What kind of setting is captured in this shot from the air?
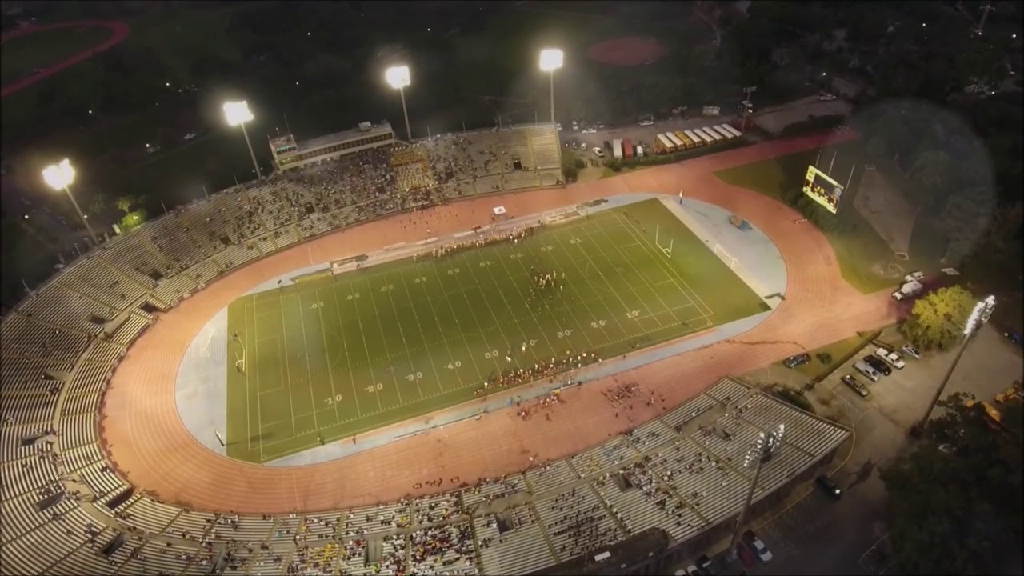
sports ground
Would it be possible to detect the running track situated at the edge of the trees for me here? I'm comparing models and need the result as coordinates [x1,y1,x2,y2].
[97,126,960,523]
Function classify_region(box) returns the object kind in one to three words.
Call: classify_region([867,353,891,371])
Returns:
car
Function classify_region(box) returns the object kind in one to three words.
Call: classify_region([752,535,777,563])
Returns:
car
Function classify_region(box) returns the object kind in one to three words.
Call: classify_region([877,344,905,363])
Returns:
vehicle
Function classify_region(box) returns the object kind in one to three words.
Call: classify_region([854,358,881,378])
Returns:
vehicle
